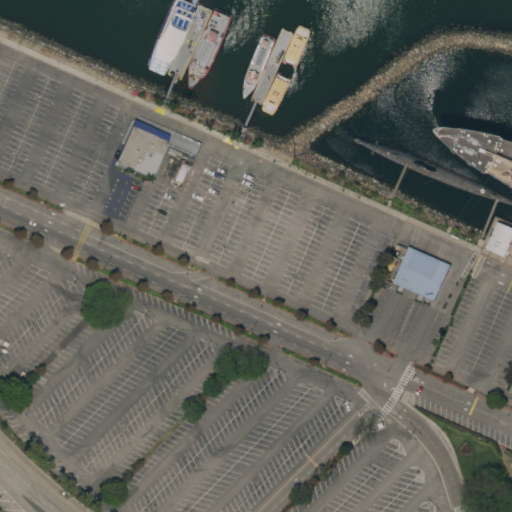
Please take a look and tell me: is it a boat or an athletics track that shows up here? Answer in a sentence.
Looking from above, you can make out a boat.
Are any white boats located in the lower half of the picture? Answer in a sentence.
No, no white boat is visible in the lower half of the picture.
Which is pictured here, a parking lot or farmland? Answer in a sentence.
The area seen from above is a parking lot.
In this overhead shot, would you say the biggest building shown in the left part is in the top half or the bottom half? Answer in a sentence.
You can find the biggest building shown in the left part in the top half.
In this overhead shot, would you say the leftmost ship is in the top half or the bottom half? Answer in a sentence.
You can find the leftmost ship in the top half.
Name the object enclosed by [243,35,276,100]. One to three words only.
boat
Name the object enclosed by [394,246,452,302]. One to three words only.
building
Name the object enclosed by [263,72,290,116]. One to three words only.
boat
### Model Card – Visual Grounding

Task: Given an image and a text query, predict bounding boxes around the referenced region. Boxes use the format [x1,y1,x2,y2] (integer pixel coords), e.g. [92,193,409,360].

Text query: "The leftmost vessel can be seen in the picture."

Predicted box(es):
[148,0,201,76]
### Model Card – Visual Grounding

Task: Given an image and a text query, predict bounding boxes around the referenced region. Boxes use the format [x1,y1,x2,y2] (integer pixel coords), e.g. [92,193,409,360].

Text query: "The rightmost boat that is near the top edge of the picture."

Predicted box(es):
[284,24,312,66]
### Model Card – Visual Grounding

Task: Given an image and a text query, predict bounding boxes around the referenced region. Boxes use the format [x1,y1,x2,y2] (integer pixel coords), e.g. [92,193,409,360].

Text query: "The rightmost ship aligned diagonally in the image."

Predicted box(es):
[434,127,512,190]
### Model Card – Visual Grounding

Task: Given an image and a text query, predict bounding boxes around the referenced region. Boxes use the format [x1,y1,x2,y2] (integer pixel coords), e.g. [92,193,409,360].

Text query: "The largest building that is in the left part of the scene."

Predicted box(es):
[118,116,172,180]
